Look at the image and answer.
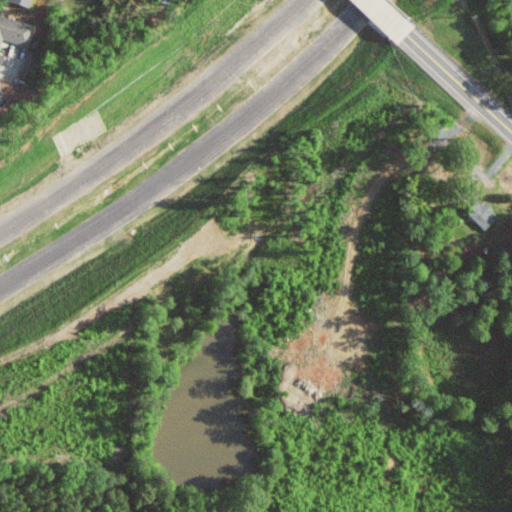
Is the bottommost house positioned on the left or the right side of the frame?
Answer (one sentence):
The bottommost house appears in the right half of the scene.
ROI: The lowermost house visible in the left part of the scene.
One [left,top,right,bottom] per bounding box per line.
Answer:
[0,12,38,50]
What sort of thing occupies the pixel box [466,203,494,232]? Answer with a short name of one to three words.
house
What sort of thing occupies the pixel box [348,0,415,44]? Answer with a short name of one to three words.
bridge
